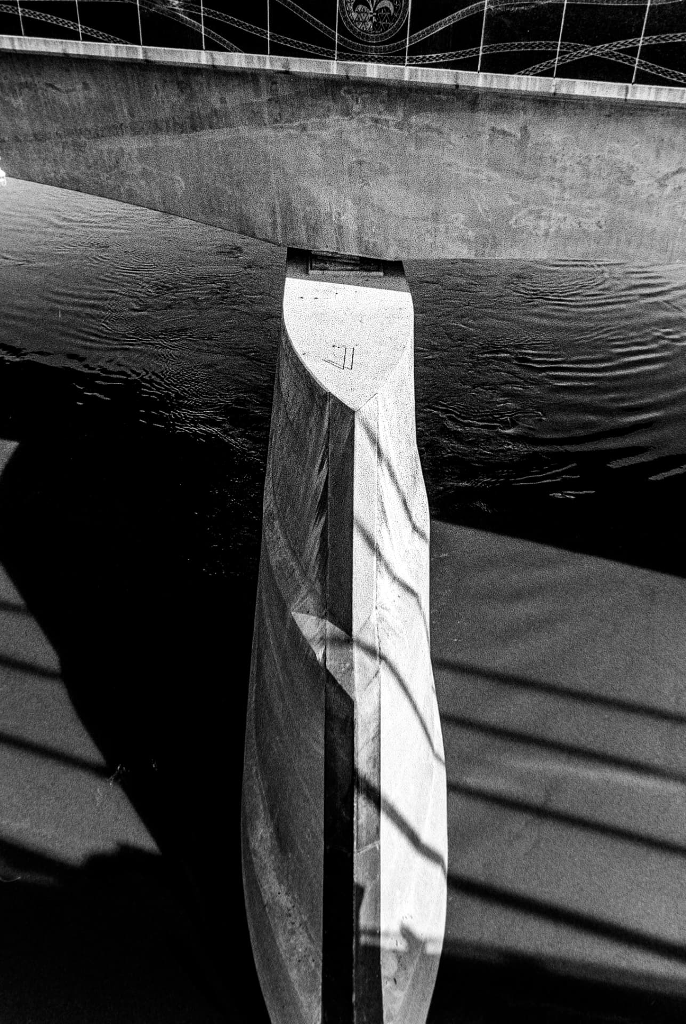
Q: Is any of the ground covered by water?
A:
Yes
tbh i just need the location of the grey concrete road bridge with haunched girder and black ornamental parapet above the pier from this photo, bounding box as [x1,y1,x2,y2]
[0,0,686,262]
